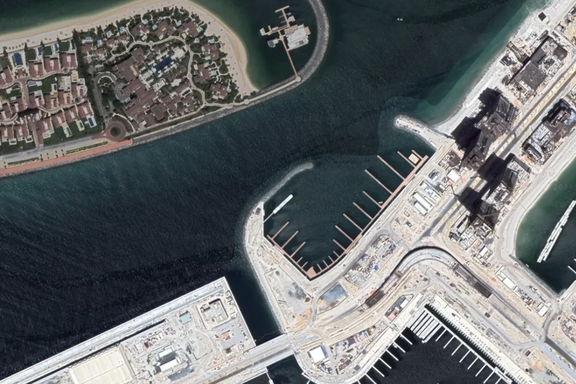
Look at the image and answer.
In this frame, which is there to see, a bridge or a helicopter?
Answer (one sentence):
The image shows a bridge.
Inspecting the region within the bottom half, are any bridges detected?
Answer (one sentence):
Yes, looking within the bottom half, one can make out a bridge.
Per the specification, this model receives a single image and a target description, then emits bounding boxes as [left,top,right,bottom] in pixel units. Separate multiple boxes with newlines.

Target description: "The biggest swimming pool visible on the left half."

[155,55,174,70]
